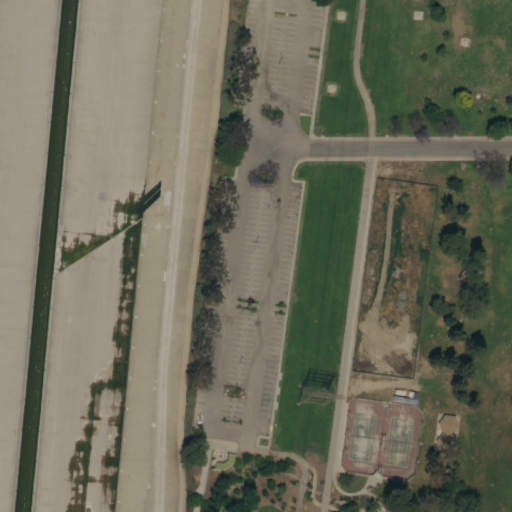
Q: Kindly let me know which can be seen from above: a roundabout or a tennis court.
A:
tennis court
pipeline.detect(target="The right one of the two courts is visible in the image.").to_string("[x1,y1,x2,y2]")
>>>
[380,404,424,478]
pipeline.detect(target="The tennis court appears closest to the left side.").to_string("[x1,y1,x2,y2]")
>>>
[342,399,388,474]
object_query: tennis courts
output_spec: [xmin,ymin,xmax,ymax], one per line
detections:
[380,404,424,478]
[342,399,388,474]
